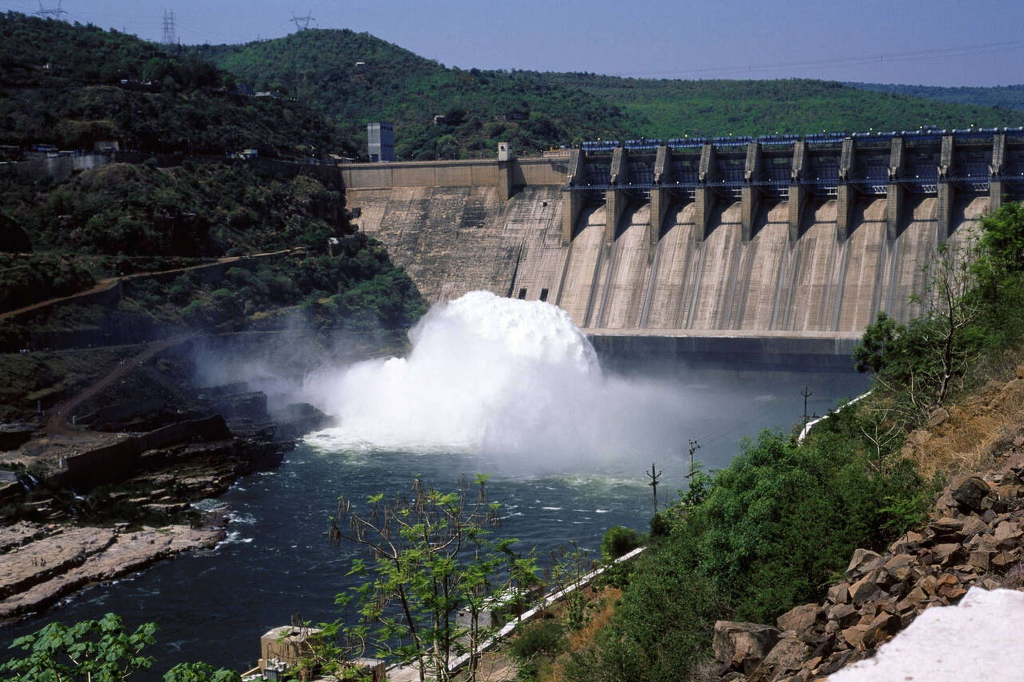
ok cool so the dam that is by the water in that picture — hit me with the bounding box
[334,124,1024,363]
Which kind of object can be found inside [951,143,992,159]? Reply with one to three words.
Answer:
bridge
